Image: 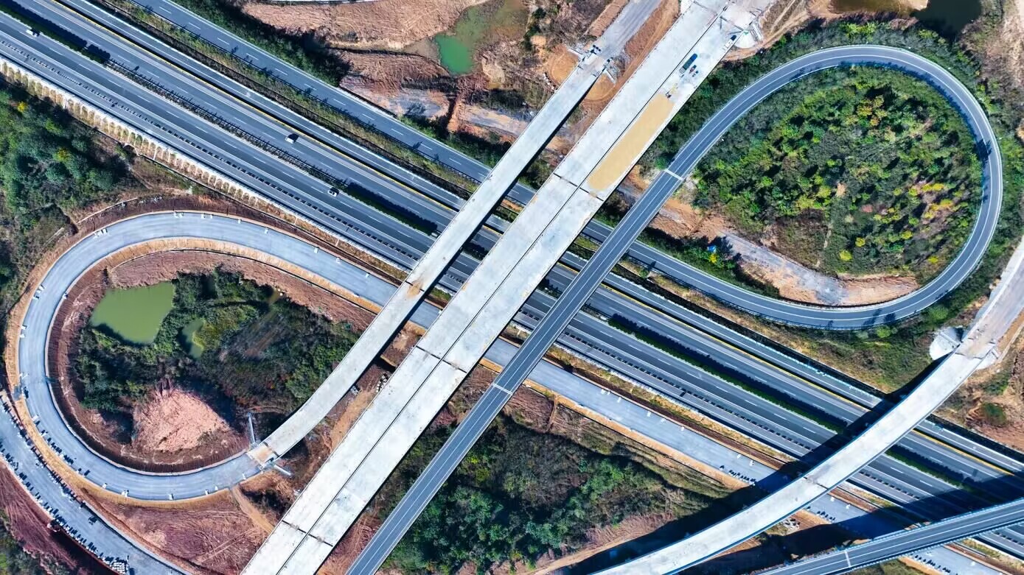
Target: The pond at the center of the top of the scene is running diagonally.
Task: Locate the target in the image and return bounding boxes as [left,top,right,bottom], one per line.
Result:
[433,0,529,76]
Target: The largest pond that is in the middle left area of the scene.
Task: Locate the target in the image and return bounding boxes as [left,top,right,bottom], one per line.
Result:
[89,282,176,345]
